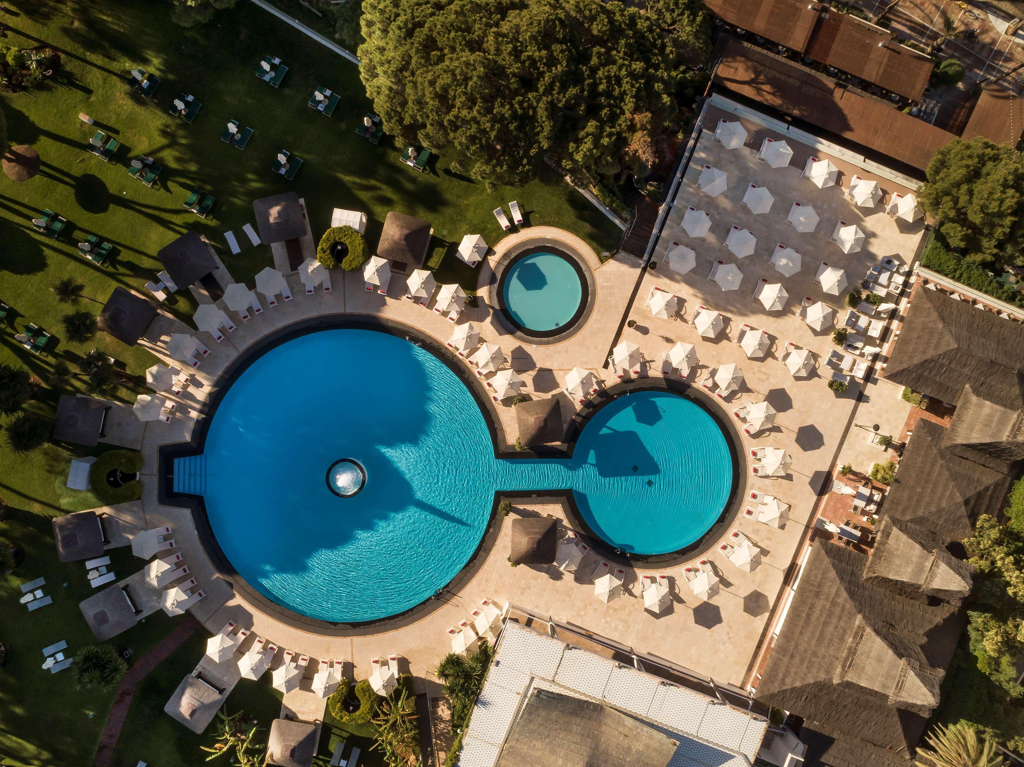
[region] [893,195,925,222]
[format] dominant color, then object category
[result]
white umbrella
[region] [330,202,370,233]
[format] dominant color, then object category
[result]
white tent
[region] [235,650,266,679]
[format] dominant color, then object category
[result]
white umbrella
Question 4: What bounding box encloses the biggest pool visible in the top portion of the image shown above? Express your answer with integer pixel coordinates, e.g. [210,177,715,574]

[503,252,582,331]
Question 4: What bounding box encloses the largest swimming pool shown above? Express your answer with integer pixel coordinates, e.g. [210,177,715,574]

[173,329,734,623]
